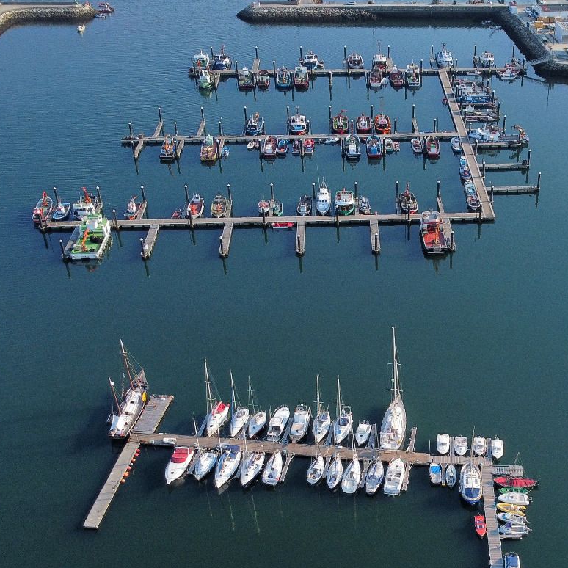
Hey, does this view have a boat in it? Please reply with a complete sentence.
Yes, a boat appears in the view.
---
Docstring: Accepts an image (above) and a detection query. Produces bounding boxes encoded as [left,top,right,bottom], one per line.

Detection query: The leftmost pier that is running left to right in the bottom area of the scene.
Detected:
[131,433,430,465]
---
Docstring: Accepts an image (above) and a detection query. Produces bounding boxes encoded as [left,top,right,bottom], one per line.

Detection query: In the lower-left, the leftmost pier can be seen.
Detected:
[84,444,140,529]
